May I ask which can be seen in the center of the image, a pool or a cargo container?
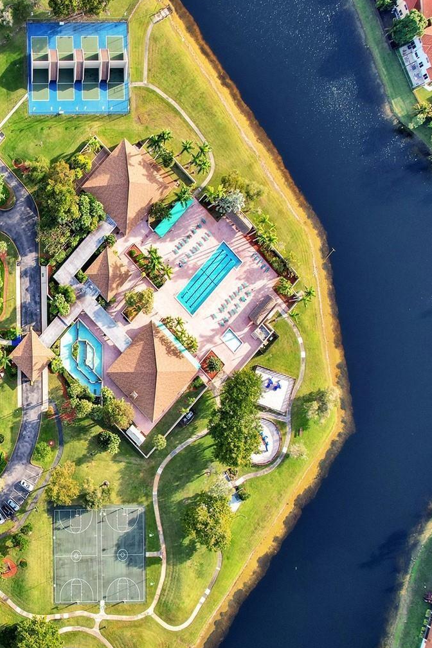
pool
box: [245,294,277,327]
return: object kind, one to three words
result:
shed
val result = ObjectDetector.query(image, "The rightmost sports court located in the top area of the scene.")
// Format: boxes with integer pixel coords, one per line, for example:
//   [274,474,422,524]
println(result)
[106,36,128,100]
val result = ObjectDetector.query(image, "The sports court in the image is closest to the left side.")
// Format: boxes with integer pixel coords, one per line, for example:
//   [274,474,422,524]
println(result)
[31,36,51,100]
